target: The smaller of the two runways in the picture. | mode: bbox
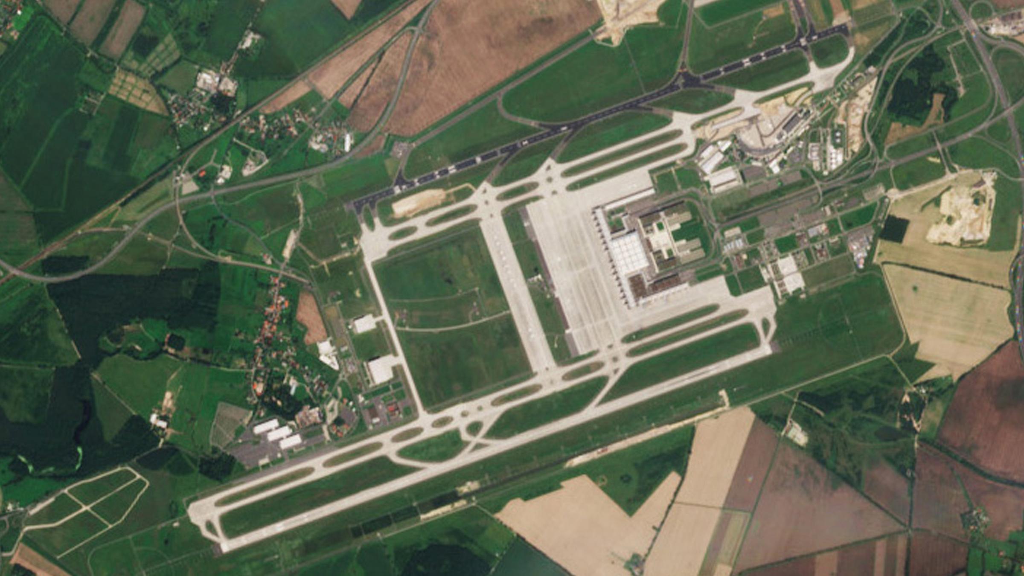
[354,26,848,209]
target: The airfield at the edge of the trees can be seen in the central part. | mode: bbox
[184,0,854,567]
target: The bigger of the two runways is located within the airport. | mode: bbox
[219,343,772,553]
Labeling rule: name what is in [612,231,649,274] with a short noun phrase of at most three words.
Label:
building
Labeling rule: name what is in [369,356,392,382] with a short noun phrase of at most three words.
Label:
hangar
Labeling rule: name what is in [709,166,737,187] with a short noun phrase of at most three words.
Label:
hangar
